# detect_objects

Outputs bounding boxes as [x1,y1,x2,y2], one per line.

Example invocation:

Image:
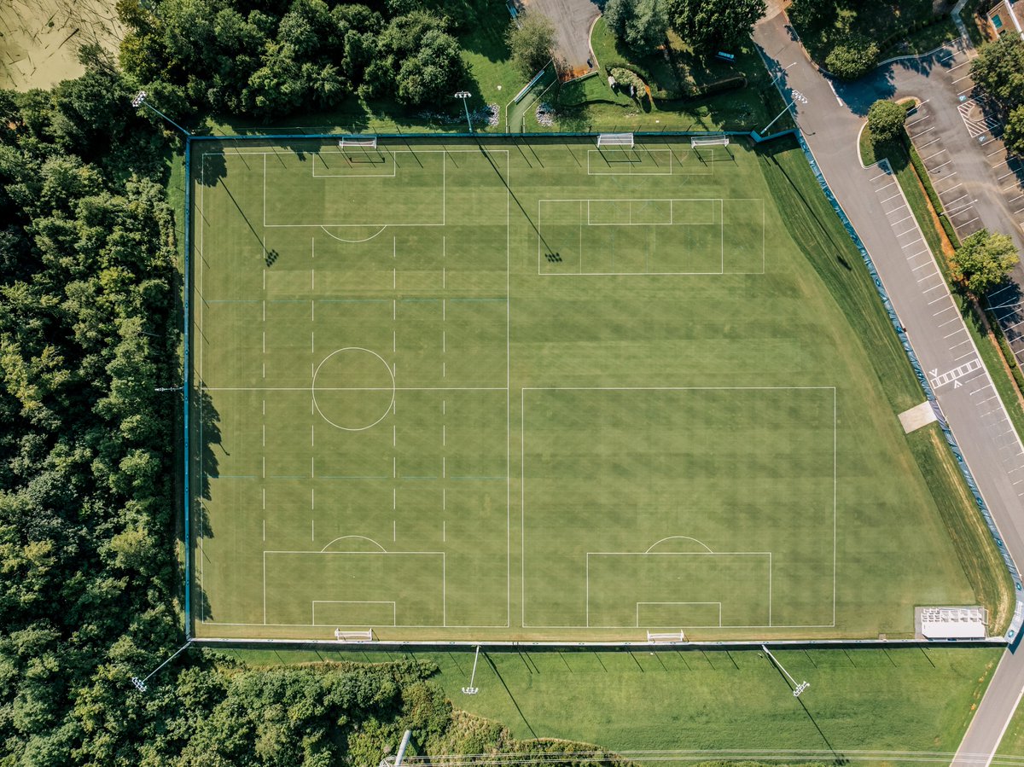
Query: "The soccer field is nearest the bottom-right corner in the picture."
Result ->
[521,386,837,630]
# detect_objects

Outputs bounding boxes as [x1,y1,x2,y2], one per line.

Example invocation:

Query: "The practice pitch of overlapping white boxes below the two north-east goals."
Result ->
[537,147,765,276]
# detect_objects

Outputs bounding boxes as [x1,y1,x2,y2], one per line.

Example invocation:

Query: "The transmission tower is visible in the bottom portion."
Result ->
[377,729,409,767]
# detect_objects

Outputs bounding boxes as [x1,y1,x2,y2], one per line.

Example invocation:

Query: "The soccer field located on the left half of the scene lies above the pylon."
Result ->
[201,149,511,629]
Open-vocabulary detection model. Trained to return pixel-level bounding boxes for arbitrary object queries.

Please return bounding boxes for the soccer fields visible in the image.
[201,149,511,629]
[521,386,837,630]
[537,147,765,276]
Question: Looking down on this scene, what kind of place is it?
sports ground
